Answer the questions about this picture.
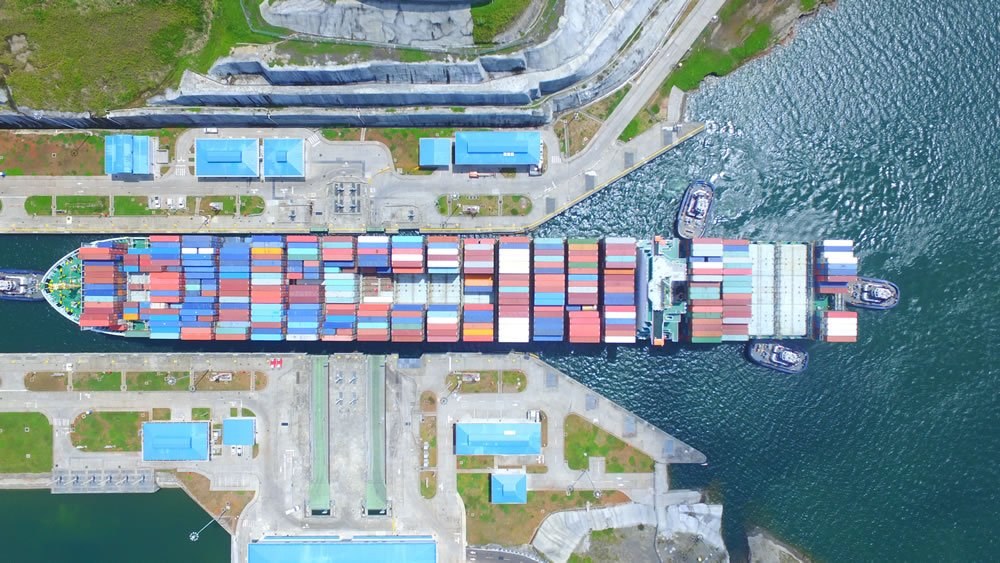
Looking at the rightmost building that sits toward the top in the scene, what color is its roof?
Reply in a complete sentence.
From above, the roof of the rightmost building that sits toward the top looks blue.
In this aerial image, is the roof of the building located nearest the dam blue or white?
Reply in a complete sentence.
From above, the roof of the building located nearest the dam appears blue.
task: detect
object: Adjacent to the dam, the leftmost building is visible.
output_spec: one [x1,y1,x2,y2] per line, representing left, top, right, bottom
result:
[142,419,215,462]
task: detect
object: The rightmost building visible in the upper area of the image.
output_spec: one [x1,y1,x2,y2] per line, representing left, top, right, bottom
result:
[455,132,543,169]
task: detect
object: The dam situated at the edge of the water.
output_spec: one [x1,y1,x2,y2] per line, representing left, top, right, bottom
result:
[52,465,161,494]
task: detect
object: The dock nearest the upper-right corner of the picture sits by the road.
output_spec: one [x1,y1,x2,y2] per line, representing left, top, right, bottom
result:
[521,122,706,234]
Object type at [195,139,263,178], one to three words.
building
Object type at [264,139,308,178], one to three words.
building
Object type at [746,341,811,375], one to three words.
boat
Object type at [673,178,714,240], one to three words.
boat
